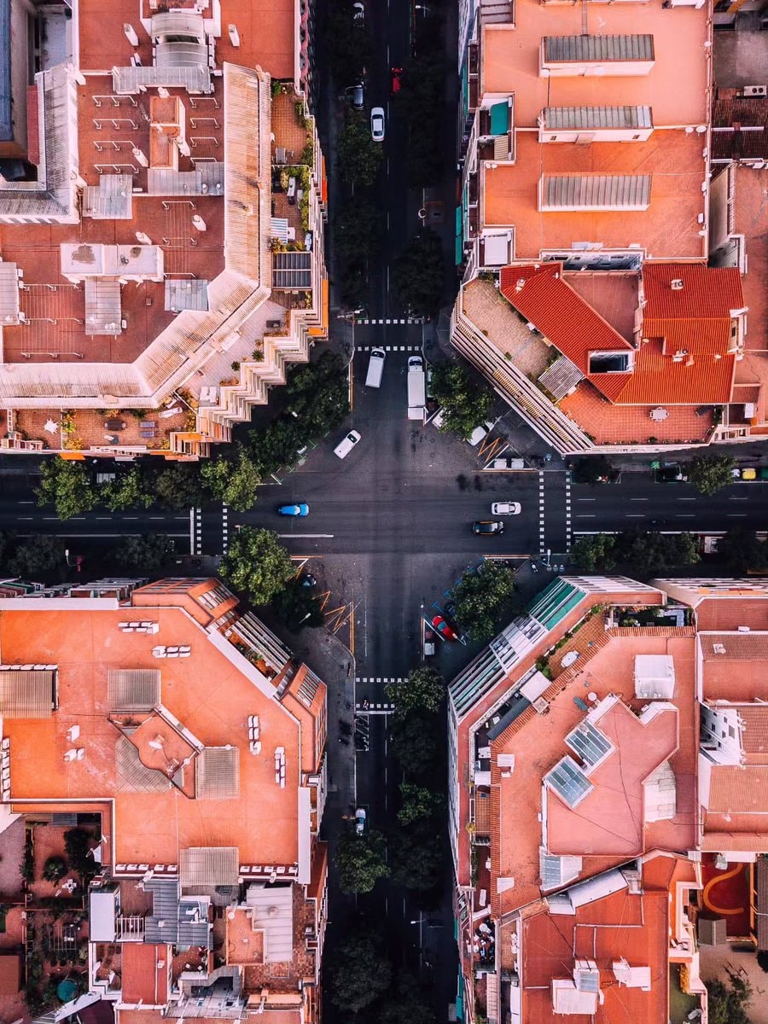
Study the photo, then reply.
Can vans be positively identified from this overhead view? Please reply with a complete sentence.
Yes, the picture does show a van.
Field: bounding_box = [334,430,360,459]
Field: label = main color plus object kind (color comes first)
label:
white vehicle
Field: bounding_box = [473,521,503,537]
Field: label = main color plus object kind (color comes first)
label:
black car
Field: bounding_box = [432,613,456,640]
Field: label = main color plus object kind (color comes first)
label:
red car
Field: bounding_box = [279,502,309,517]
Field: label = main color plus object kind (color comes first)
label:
blue car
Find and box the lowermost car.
[353,805,368,834]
